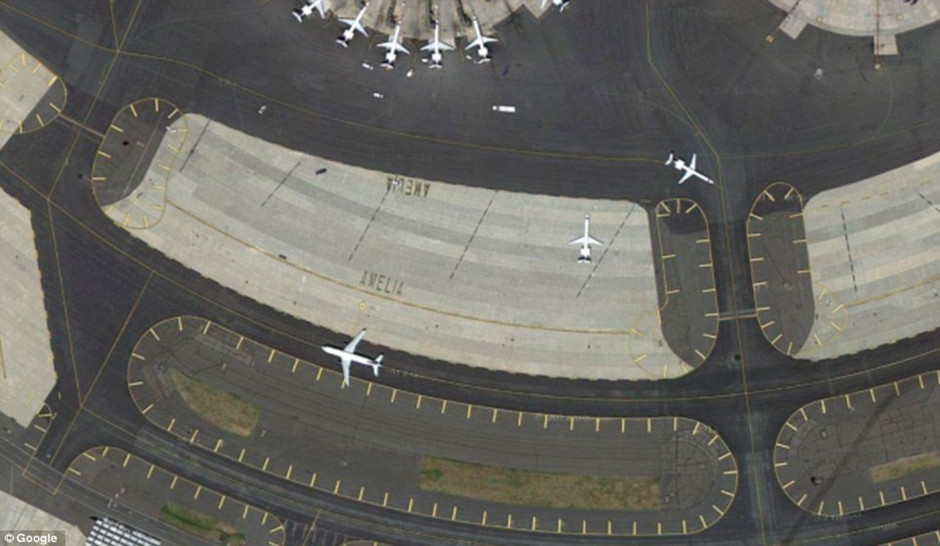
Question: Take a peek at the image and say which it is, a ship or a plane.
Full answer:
Visible in the photo is a plane.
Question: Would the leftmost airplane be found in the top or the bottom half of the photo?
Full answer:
You can find the leftmost airplane in the top half.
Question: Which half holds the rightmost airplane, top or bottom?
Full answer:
You can find the rightmost airplane in the top half.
